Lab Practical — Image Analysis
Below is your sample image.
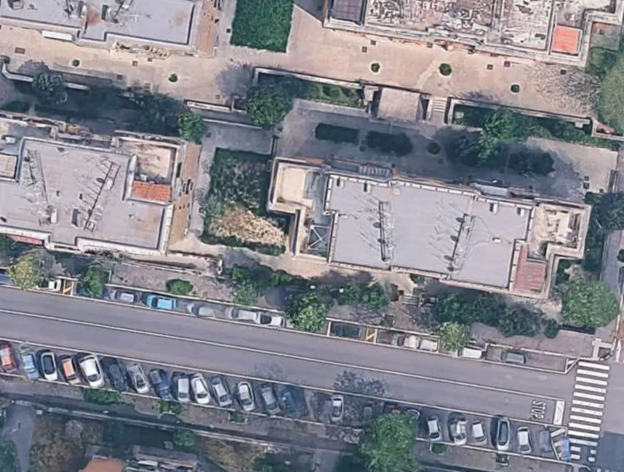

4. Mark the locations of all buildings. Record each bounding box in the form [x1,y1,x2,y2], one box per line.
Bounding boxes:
[0,0,220,67]
[266,149,592,298]
[69,452,234,472]
[0,102,201,256]
[323,0,624,72]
